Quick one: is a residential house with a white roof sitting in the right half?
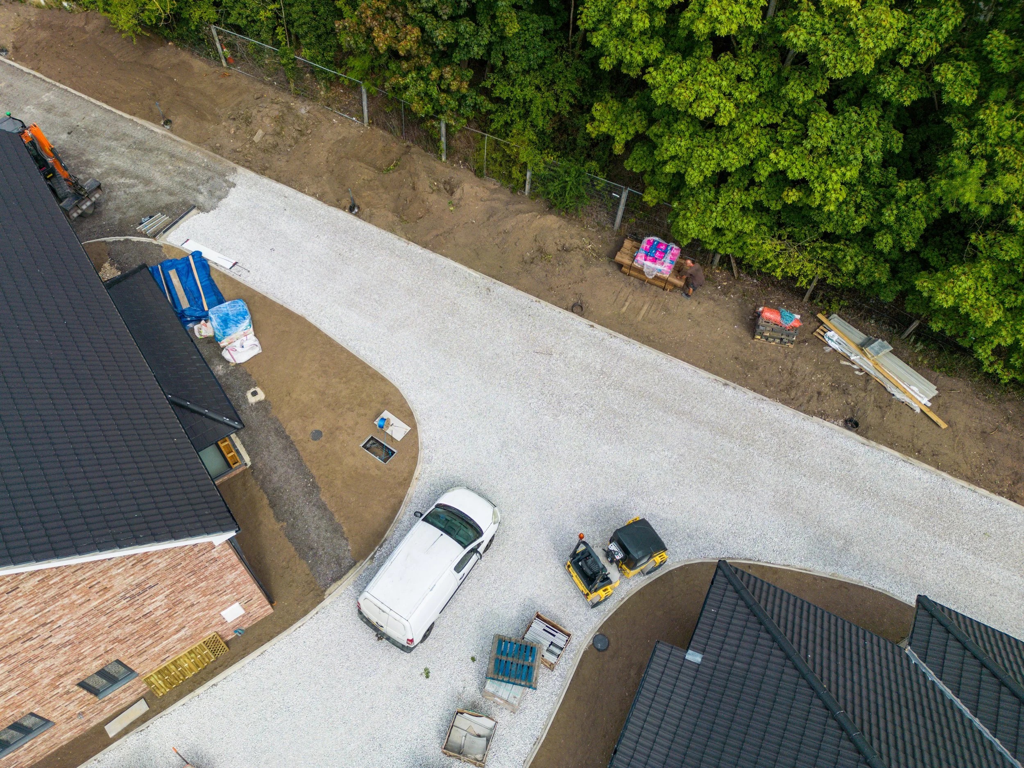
No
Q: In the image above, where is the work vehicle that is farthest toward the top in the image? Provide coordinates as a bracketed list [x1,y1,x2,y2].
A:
[0,108,108,220]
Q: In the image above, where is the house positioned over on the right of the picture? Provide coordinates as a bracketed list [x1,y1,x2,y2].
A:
[601,554,1024,768]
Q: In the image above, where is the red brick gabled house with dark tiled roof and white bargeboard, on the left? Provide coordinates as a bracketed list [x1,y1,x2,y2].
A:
[0,136,273,768]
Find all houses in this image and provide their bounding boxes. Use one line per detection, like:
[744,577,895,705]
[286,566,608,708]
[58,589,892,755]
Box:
[0,136,273,768]
[601,554,1024,768]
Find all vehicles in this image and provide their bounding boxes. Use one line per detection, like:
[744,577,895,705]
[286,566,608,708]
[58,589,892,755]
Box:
[565,519,673,601]
[354,487,499,653]
[0,108,108,220]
